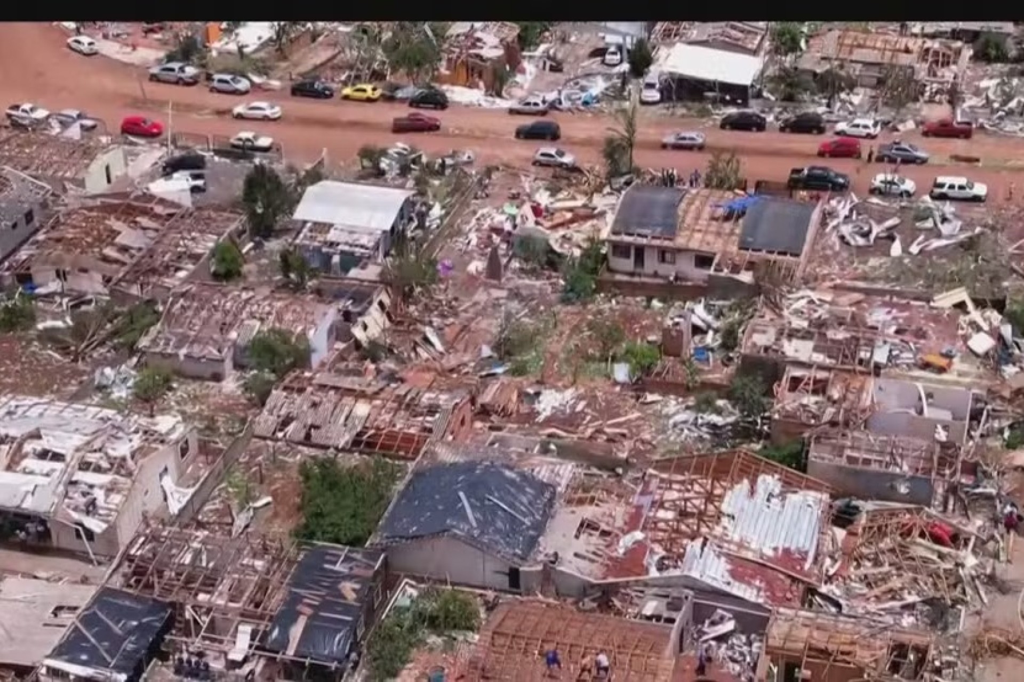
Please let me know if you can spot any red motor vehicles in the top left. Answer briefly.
Yes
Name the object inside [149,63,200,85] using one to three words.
truck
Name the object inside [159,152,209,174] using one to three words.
car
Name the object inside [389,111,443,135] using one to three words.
truck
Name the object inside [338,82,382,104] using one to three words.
car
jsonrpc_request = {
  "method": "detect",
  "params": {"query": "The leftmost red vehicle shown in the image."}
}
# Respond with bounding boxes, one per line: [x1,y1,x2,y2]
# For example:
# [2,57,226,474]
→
[118,115,165,140]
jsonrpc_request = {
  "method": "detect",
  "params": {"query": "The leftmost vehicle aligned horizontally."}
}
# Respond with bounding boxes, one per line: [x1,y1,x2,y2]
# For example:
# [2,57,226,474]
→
[2,104,53,129]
